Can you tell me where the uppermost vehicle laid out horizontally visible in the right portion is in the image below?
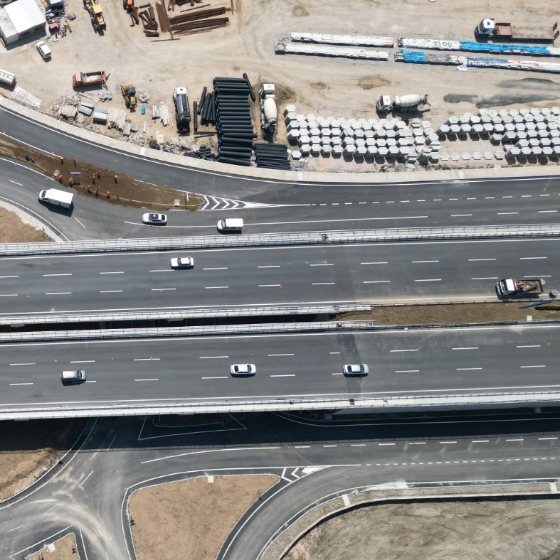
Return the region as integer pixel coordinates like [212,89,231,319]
[470,20,560,41]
